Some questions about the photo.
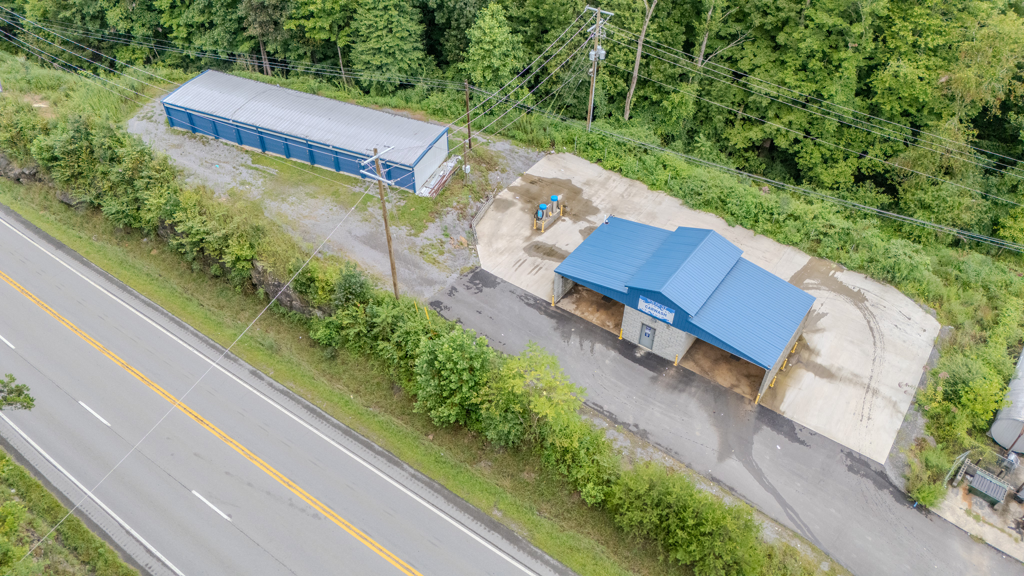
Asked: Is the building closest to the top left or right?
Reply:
left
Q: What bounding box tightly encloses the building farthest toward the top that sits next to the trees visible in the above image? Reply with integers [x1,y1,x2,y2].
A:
[161,68,453,193]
